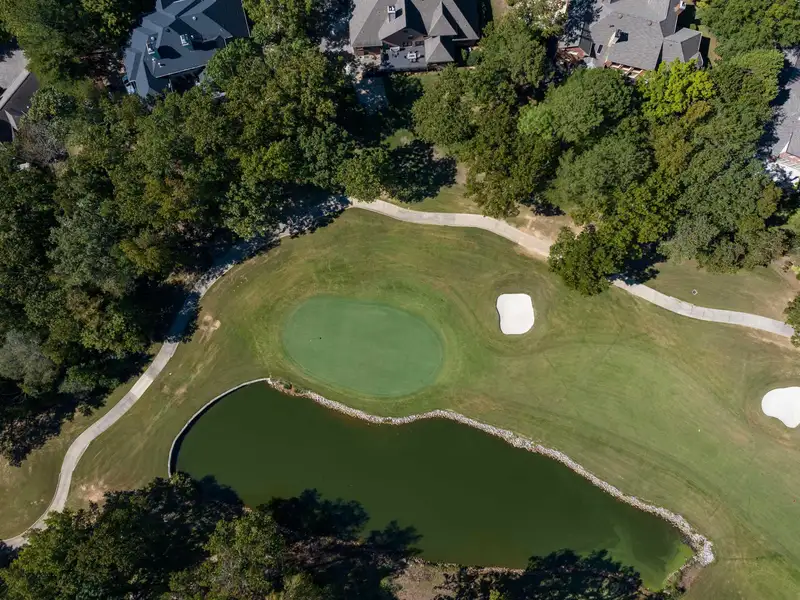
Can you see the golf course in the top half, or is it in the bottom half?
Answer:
bottom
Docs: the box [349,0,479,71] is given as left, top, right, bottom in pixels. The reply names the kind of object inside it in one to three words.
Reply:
house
